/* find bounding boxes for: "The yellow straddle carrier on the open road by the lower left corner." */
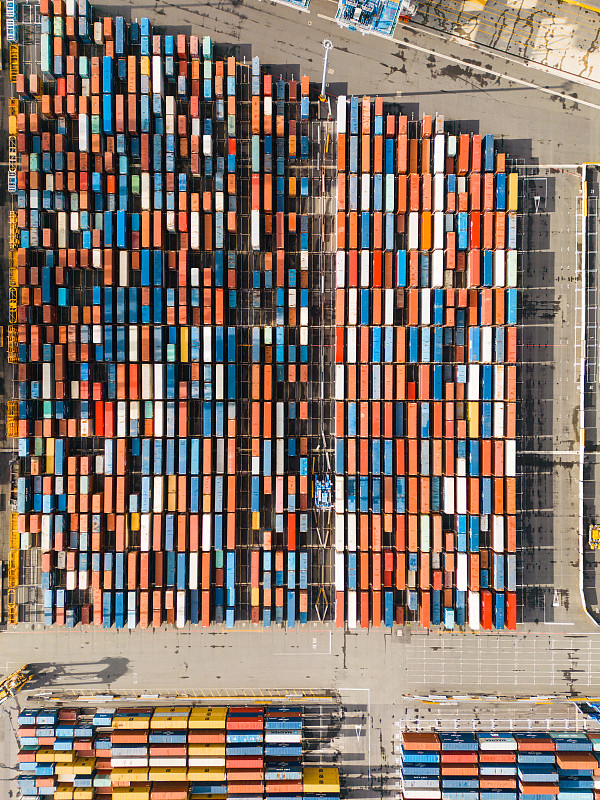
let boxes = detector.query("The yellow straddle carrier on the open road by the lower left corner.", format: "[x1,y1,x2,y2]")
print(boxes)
[0,662,34,705]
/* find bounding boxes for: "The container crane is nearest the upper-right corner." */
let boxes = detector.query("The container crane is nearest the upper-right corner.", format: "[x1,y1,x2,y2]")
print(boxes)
[335,0,423,41]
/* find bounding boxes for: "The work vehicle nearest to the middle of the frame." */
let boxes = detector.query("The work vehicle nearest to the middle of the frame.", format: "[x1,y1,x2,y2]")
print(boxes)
[316,476,334,510]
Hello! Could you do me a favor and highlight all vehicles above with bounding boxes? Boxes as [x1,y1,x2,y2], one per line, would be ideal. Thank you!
[588,525,600,549]
[0,662,34,705]
[316,476,334,510]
